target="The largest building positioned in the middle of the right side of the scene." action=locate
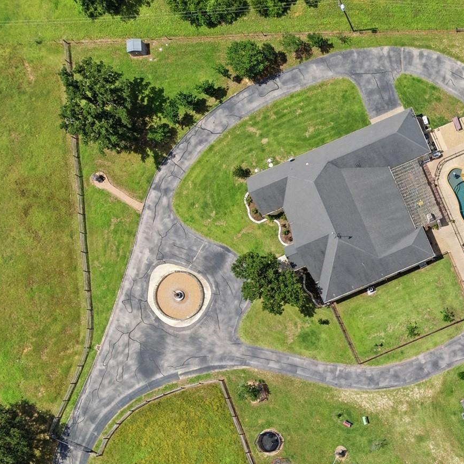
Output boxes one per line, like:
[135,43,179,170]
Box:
[249,107,435,304]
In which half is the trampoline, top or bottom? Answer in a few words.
bottom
